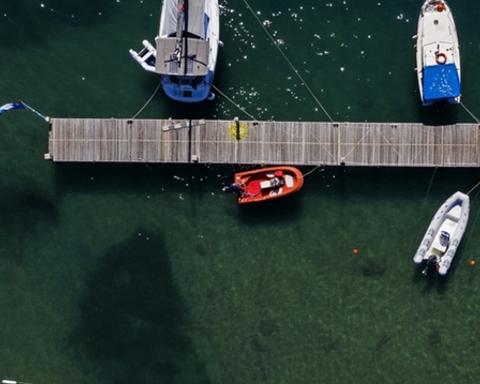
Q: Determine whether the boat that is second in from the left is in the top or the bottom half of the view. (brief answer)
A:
top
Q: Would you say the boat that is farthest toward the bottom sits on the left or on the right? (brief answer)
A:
right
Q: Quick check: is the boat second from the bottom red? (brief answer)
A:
Yes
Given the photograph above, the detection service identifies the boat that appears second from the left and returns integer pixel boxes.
[153,0,225,109]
